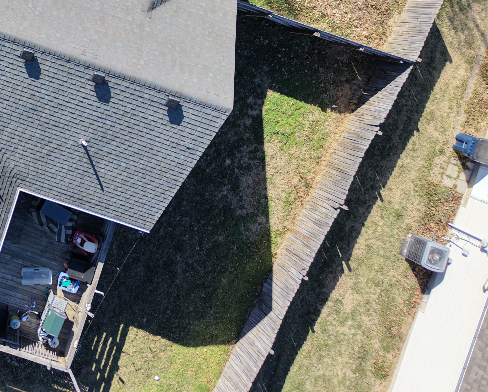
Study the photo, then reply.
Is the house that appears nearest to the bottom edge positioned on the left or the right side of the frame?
right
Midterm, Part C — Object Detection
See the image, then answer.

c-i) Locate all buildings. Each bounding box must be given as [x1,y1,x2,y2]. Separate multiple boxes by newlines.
[0,0,239,248]
[383,192,488,392]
